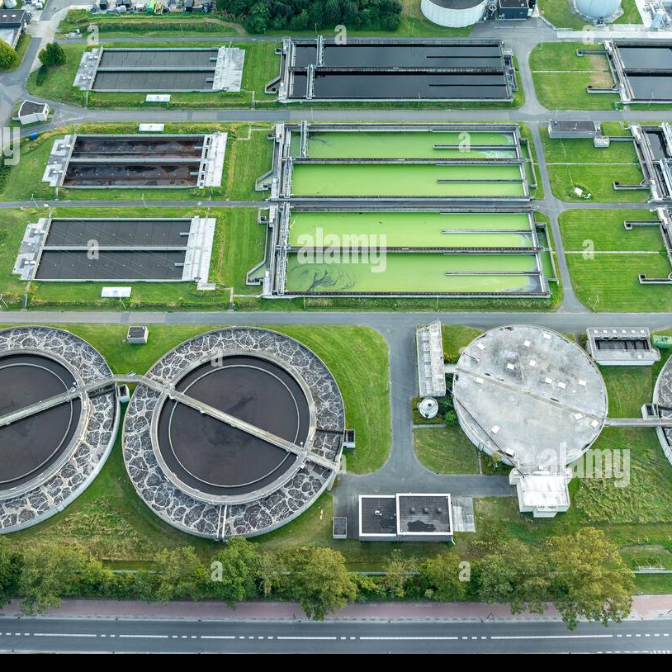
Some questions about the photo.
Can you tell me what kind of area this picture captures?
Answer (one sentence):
This image shows an industrial area.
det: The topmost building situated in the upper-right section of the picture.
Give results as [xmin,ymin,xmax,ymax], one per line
[495,0,529,18]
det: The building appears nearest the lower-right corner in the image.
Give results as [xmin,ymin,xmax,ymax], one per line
[506,464,572,515]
